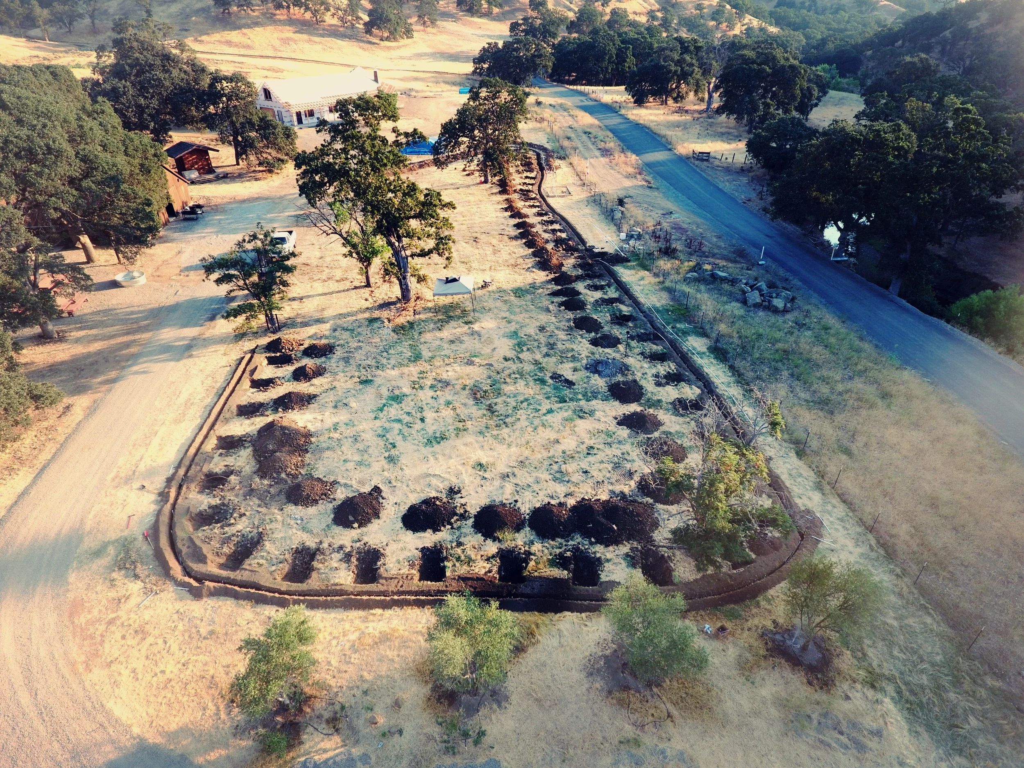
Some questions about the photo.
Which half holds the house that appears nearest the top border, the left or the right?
left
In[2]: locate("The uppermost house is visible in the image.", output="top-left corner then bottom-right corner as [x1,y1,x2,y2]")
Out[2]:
[260,39,390,128]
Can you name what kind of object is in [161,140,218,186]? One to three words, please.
building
